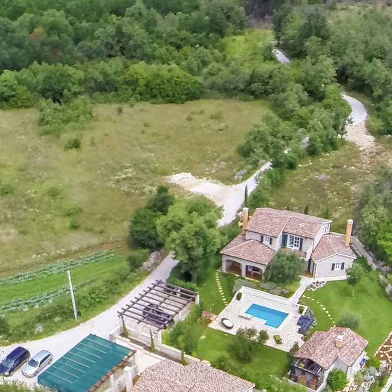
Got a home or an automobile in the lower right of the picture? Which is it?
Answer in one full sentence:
Visible in the lower right of the picture is a home.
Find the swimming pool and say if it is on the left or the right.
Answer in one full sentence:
You can find the swimming pool on the right side of the picture.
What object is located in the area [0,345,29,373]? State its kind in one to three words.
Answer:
car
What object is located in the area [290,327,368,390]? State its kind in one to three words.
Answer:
house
